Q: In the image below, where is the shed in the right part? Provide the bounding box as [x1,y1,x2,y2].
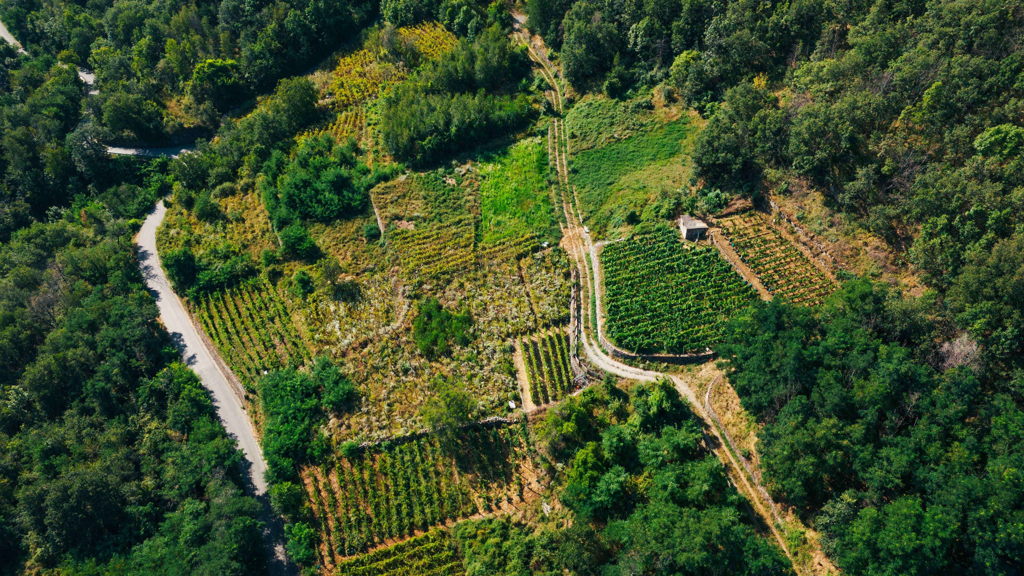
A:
[680,212,712,242]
